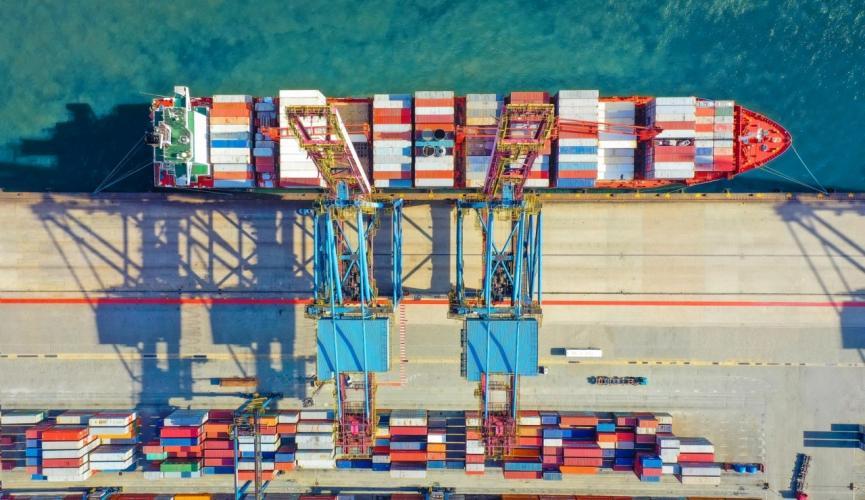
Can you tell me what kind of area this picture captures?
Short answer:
port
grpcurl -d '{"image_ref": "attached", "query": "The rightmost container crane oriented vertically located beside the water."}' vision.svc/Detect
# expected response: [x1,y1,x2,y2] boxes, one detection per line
[443,105,556,470]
